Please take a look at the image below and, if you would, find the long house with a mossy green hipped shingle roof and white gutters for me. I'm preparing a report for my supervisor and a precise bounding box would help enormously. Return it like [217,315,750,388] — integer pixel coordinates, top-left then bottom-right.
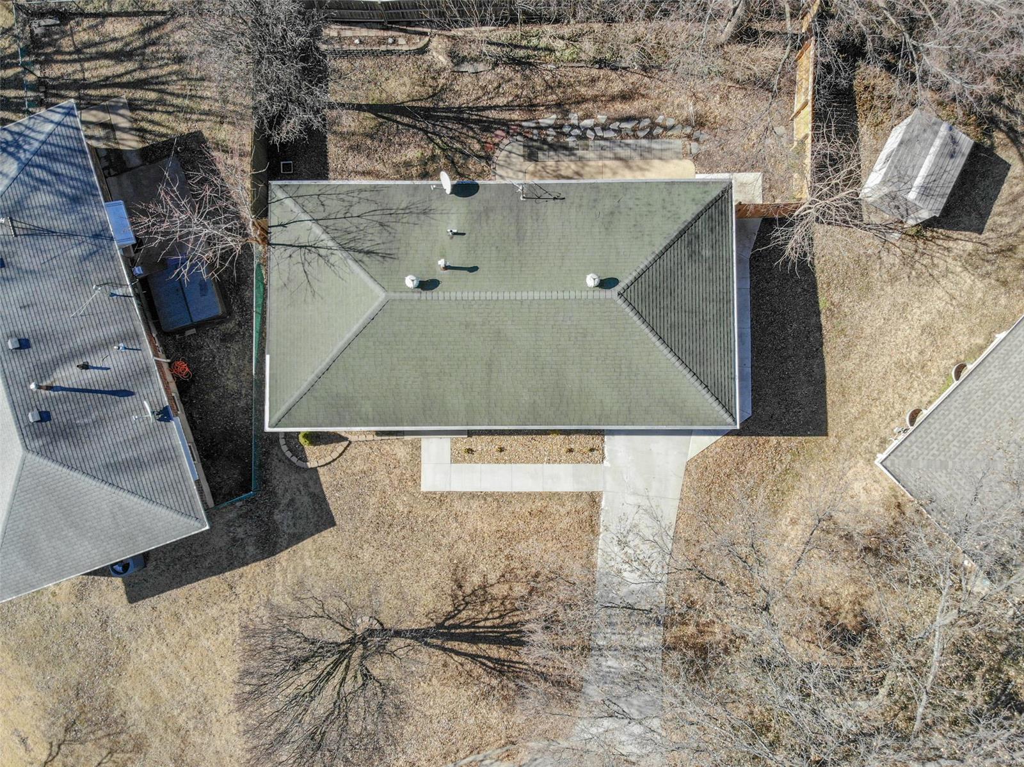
[263,177,741,433]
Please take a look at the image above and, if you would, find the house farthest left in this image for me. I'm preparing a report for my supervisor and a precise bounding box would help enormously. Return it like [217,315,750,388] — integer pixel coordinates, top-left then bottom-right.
[0,99,221,603]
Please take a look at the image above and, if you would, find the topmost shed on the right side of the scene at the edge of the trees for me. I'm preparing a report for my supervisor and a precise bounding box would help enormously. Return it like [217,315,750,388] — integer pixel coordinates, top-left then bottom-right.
[861,104,976,219]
